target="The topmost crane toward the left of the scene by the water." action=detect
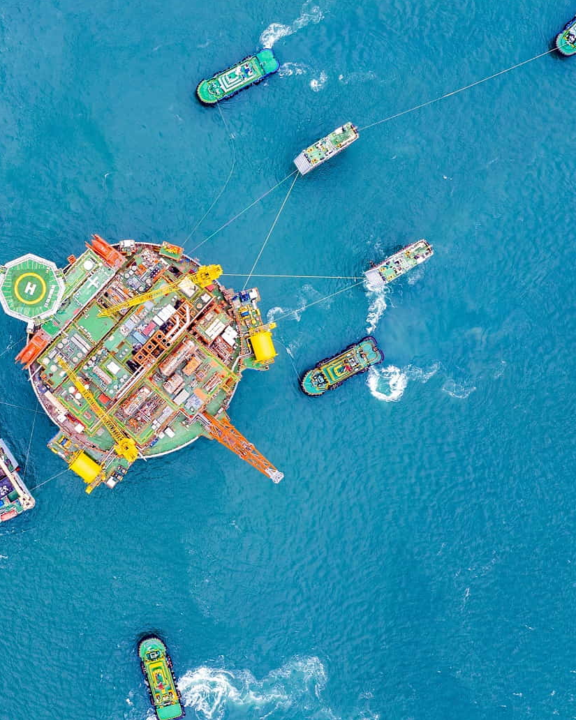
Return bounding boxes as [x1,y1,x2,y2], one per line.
[98,258,232,317]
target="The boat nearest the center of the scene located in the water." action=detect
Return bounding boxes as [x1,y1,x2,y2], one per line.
[301,337,385,395]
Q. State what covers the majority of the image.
water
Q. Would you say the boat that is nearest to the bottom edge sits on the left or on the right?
left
